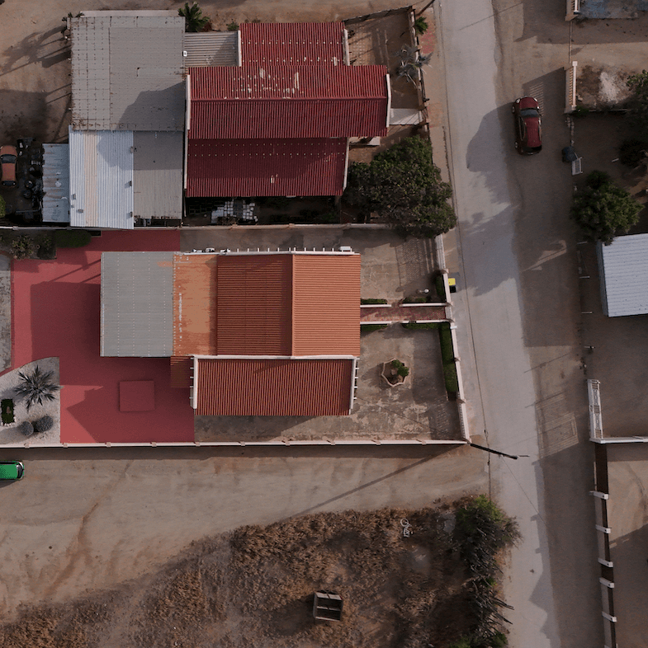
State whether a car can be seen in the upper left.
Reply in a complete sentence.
Yes, a car appears in the upper left.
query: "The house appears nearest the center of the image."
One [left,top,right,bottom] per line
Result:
[171,248,360,416]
